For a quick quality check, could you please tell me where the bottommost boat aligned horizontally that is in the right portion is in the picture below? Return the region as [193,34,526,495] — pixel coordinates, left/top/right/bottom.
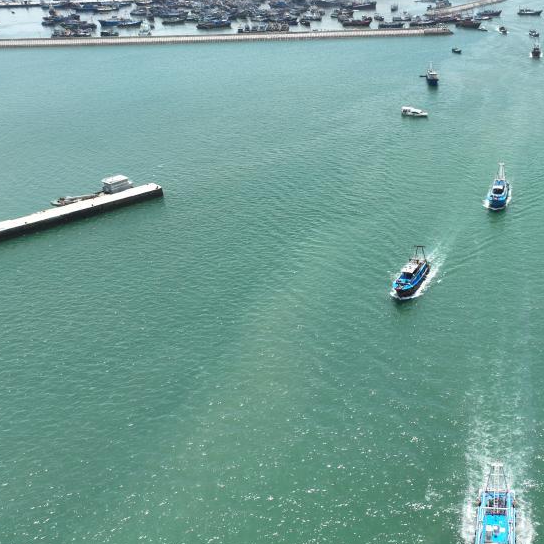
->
[399,104,428,117]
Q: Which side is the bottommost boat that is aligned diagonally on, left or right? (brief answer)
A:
right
